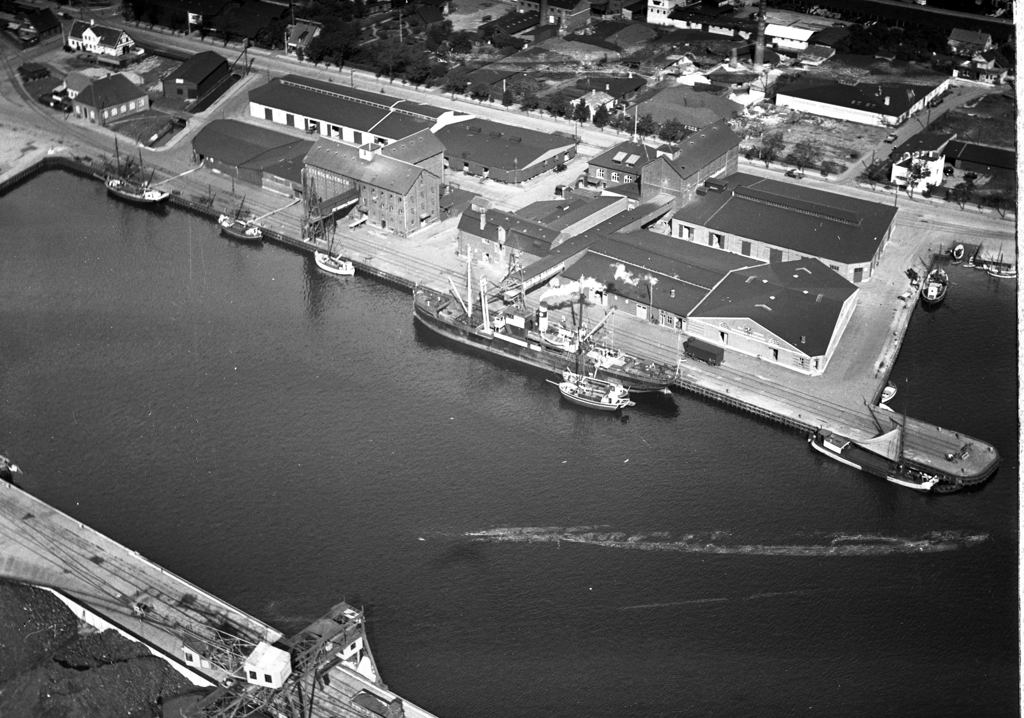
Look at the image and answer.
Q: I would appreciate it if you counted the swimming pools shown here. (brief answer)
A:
zero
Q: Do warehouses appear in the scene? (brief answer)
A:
Yes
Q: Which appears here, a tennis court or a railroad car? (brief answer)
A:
railroad car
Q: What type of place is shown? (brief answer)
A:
port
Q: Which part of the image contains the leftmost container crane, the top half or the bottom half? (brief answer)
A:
bottom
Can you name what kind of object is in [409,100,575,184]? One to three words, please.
building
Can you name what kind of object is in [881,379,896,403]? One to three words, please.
boat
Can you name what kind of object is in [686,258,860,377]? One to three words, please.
warehouse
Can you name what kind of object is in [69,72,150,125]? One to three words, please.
house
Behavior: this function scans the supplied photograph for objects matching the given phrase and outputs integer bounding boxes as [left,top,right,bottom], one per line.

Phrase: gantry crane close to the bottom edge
[131,590,394,718]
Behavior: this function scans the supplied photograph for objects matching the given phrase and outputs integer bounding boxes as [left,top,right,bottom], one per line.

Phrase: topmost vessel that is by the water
[100,137,169,205]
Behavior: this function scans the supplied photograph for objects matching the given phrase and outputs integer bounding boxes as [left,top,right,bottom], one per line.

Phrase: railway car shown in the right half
[682,336,725,364]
